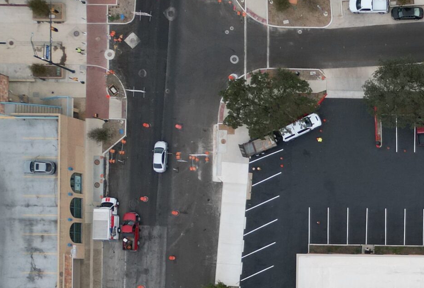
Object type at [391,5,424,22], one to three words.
car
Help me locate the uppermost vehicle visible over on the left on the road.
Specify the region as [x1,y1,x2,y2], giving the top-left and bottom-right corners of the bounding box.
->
[150,141,169,173]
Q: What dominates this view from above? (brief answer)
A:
paved ground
